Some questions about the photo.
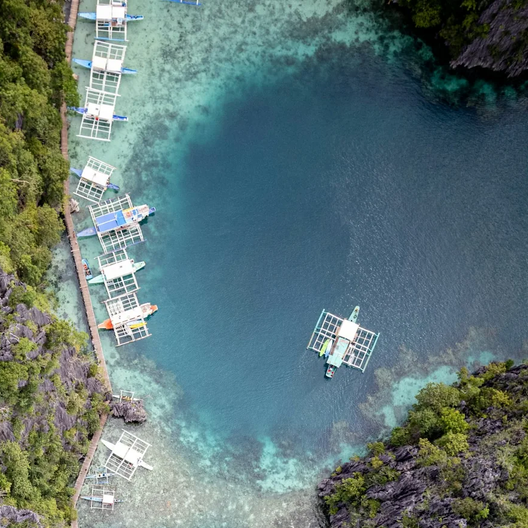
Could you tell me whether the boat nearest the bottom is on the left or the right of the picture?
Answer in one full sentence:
You can find the boat nearest the bottom on the left side of the picture.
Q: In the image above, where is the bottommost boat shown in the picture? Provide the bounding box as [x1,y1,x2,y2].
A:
[81,484,125,510]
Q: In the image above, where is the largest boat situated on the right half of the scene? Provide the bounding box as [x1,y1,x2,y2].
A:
[307,306,380,379]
